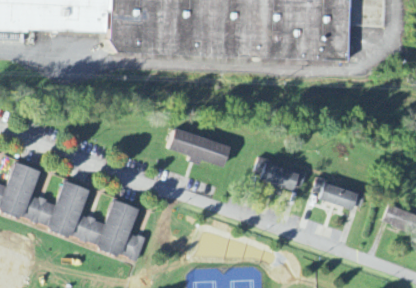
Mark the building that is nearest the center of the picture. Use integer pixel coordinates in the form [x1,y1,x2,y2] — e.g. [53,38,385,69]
[166,129,231,168]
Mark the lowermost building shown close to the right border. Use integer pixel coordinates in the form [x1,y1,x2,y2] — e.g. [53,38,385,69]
[381,206,416,232]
